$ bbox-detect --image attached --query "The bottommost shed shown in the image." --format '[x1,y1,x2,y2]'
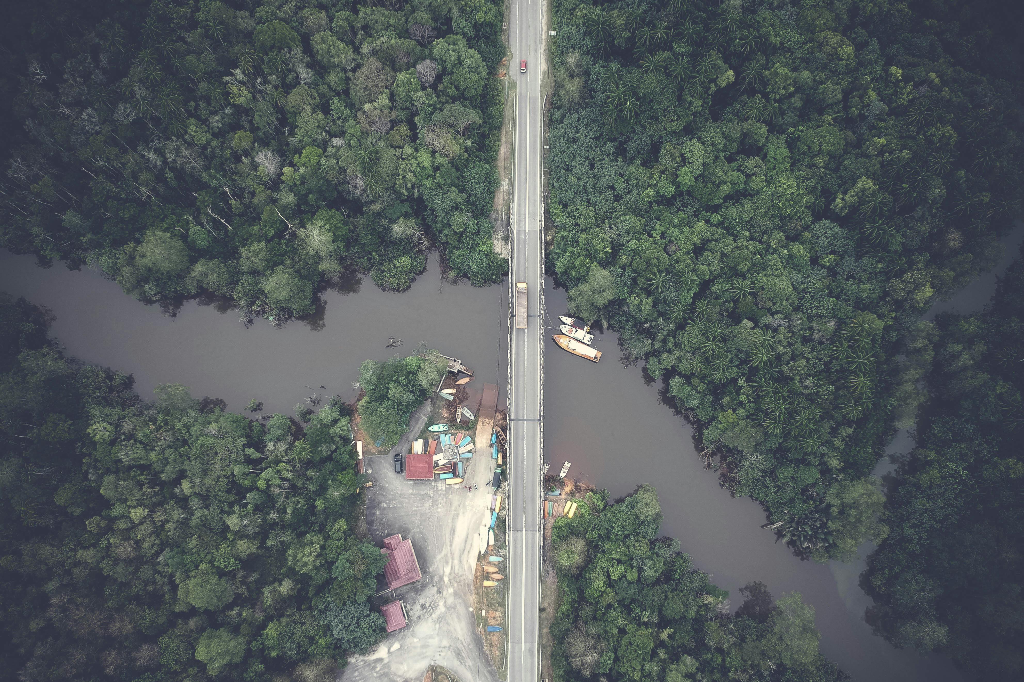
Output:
[380,600,409,633]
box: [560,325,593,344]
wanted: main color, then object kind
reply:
white boat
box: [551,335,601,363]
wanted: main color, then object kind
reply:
white boat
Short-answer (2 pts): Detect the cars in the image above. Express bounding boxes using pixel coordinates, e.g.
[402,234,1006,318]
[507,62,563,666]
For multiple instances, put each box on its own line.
[518,60,525,72]
[395,454,403,473]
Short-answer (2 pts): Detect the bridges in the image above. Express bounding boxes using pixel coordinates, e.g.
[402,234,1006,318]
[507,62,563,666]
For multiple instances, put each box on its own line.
[505,204,544,545]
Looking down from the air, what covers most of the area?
trees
